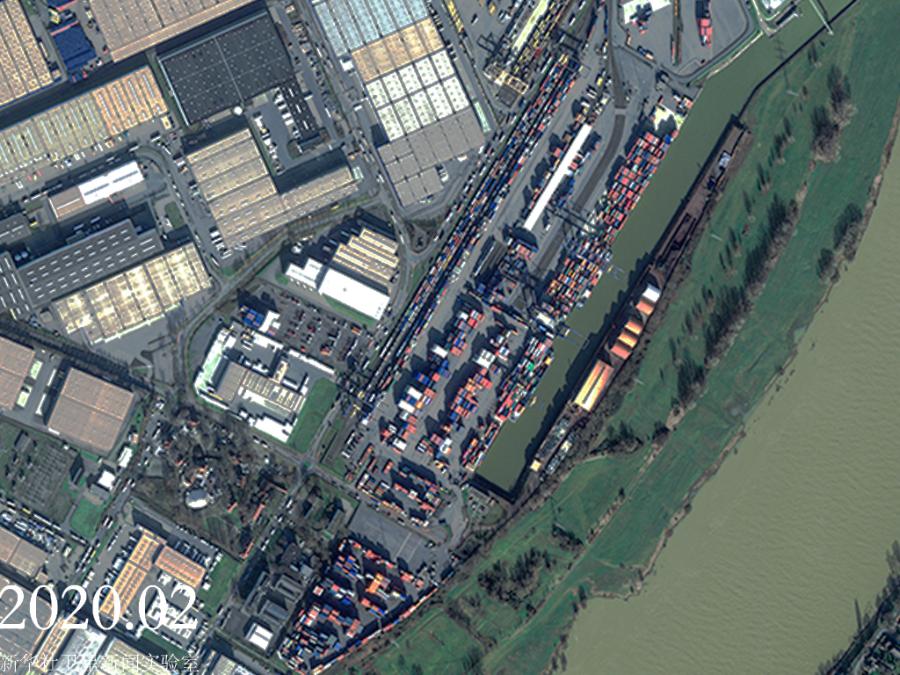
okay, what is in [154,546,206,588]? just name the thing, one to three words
building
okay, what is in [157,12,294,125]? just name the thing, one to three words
warehouse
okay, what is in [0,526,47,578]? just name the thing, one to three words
building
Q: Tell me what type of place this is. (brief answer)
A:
port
